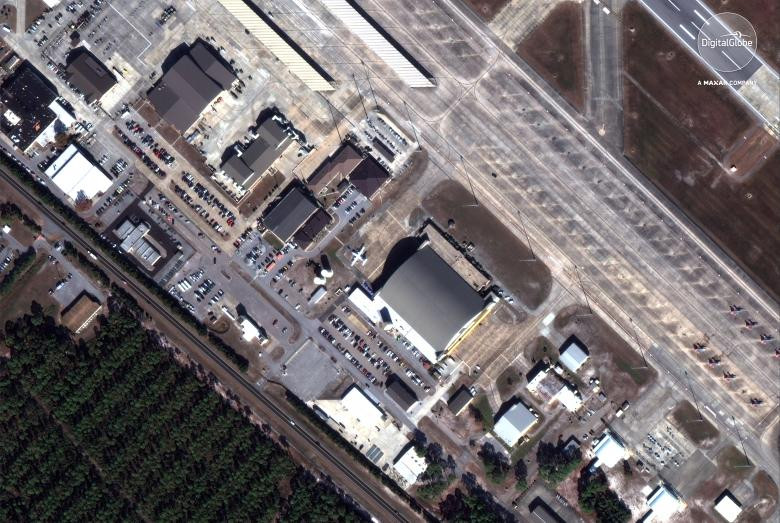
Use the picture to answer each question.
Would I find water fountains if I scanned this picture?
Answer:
No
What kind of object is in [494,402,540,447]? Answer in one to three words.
building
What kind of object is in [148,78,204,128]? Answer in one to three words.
hangar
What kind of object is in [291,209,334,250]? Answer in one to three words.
building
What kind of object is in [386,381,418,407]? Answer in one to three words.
shed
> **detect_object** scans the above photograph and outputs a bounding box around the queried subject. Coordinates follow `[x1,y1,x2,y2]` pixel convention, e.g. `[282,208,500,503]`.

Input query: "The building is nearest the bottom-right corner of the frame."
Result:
[715,496,743,522]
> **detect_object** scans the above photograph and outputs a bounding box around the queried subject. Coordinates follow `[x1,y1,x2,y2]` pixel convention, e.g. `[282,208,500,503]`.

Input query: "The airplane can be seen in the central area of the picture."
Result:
[350,245,366,266]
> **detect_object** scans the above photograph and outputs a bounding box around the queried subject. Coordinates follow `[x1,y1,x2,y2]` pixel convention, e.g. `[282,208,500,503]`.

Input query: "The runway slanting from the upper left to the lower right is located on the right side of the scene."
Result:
[635,0,780,139]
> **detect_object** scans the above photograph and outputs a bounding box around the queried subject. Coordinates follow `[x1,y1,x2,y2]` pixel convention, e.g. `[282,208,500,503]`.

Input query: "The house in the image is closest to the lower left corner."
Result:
[62,295,102,333]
